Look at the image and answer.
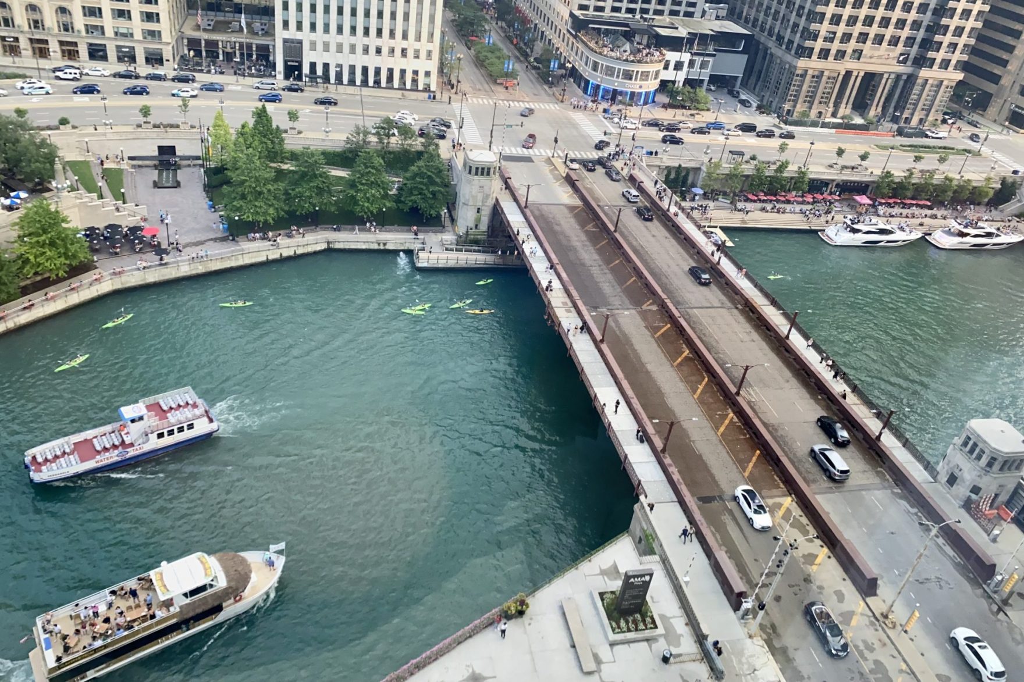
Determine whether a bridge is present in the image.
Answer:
Yes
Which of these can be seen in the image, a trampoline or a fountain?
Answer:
fountain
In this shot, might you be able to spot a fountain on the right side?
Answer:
No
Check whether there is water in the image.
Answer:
Yes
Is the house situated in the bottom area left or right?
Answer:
right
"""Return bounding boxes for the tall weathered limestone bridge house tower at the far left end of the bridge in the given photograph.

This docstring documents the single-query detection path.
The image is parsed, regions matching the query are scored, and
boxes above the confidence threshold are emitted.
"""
[453,143,507,248]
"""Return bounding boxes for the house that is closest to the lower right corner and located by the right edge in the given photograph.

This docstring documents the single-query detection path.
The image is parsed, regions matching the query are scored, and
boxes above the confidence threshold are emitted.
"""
[933,414,1024,516]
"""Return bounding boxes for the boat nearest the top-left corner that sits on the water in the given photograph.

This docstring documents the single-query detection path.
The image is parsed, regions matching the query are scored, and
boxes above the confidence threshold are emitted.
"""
[102,313,133,328]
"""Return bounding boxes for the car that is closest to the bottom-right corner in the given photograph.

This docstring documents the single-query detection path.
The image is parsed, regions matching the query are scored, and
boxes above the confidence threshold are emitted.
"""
[950,628,1016,682]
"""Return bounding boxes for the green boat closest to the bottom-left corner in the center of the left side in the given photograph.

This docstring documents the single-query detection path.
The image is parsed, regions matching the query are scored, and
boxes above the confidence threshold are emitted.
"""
[54,353,89,372]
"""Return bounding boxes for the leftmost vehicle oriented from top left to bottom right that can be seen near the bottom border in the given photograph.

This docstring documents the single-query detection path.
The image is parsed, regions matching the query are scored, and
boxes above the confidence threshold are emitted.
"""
[804,600,856,660]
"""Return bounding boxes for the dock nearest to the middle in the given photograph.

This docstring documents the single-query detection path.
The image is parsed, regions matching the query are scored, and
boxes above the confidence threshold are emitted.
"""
[415,242,521,265]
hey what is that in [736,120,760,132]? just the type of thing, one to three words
vehicle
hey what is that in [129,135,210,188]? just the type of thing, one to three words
fountain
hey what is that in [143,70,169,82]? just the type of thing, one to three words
vehicle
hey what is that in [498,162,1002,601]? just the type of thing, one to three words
bridge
